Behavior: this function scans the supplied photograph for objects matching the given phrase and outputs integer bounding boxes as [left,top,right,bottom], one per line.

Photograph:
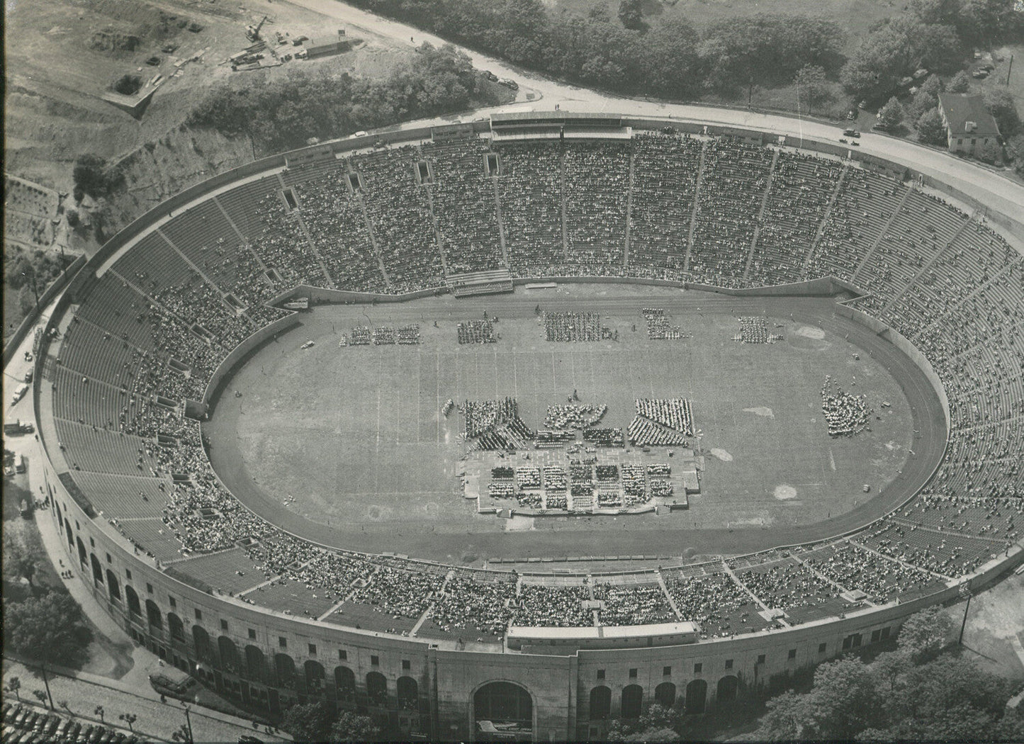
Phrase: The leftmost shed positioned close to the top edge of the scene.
[301,29,356,61]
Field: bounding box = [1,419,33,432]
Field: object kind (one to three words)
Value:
vehicle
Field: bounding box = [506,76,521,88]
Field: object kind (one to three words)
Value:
vehicle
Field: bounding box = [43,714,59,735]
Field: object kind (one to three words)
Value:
car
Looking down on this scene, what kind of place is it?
sports ground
